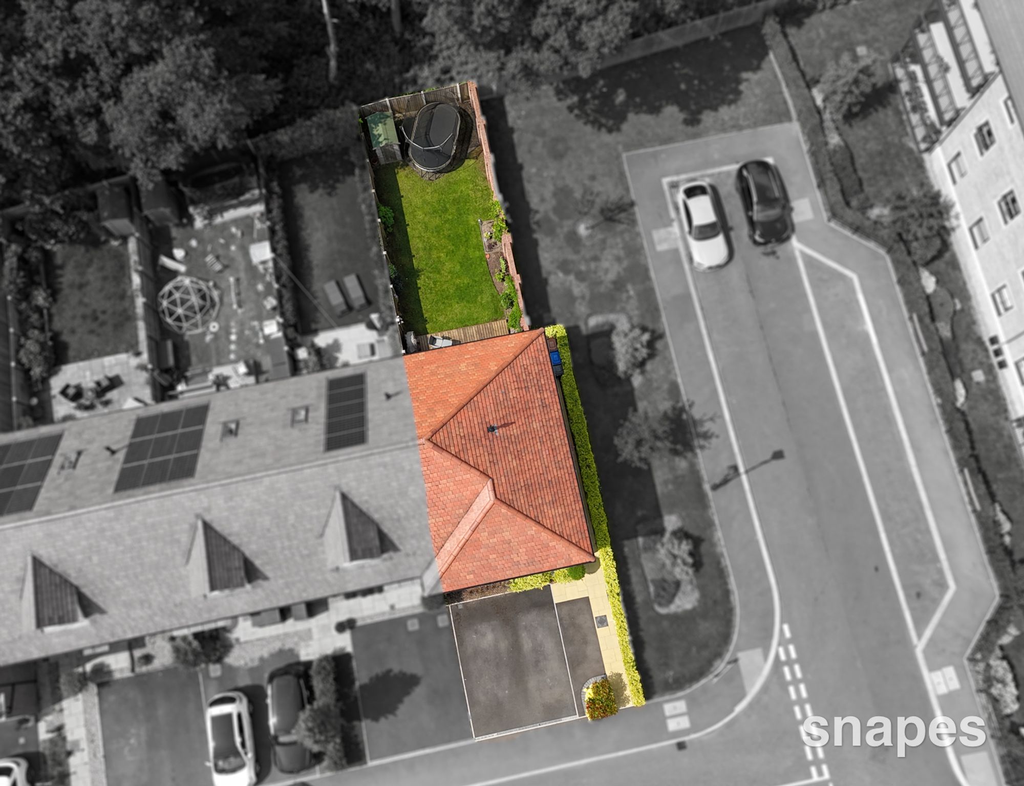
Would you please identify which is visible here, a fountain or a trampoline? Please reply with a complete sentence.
Looking from above, you can make out a trampoline.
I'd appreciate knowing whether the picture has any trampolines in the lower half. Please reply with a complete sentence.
No, no trampoline is visible in the lower half.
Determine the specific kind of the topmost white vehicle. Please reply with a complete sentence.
Looking closely, the topmost white vehicle is a car.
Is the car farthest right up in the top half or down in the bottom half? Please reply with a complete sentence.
The car farthest right is in the top half of the image.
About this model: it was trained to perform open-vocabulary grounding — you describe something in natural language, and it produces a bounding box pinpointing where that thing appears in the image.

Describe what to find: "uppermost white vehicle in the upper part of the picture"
[678,178,732,272]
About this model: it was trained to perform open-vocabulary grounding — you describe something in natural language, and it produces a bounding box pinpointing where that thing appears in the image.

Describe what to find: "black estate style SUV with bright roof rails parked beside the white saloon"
[741,158,796,249]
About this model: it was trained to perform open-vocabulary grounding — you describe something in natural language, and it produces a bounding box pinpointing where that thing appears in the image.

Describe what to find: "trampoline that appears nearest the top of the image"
[399,105,464,178]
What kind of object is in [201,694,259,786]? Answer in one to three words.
car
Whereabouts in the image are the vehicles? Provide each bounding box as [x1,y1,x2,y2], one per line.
[741,158,796,249]
[678,178,732,272]
[201,694,259,786]
[0,759,35,786]
[263,665,321,773]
